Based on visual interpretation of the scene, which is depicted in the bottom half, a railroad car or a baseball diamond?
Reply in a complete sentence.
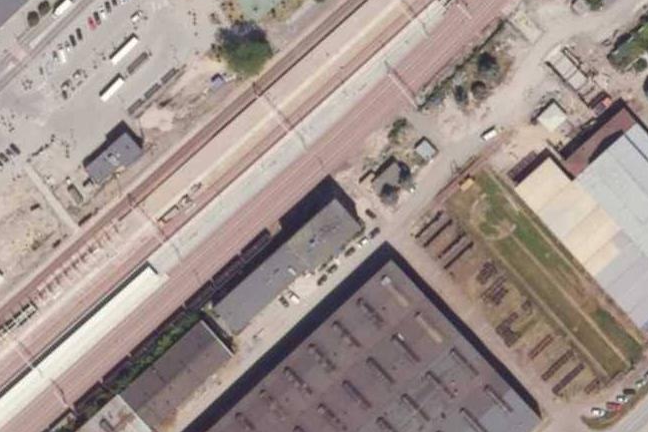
The one visible in the bottom half is a railroad car.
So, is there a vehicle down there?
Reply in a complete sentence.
Yes, you can see a vehicle in this photo.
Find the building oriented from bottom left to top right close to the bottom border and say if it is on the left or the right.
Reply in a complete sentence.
The building oriented from bottom left to top right close to the bottom border appears in the left half of the scene.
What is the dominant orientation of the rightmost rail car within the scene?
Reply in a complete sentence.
The rightmost rail car has been laid out on a diagonal relative to the frame.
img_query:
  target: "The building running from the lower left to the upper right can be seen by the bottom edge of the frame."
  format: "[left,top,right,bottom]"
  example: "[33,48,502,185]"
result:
[118,320,233,430]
